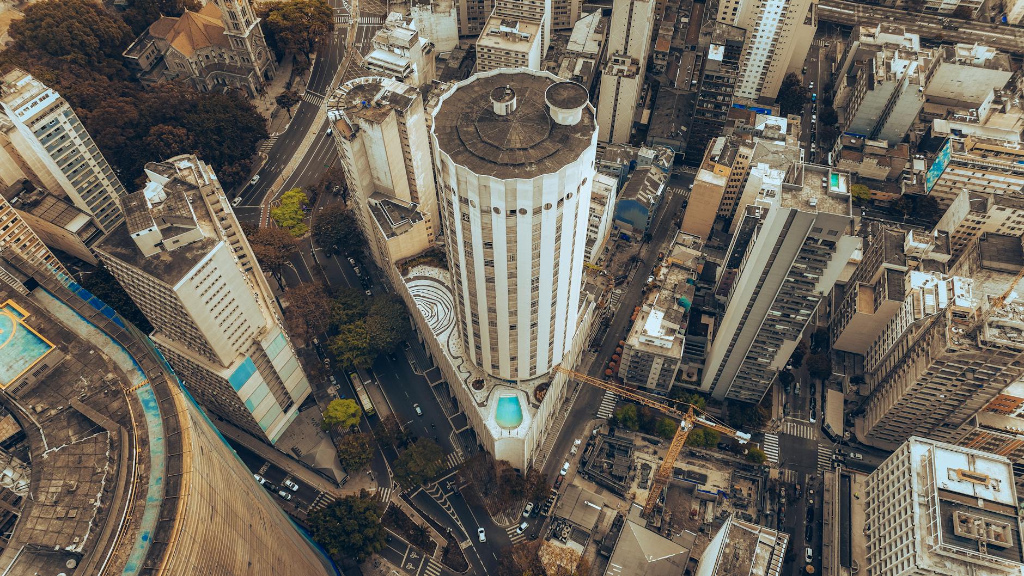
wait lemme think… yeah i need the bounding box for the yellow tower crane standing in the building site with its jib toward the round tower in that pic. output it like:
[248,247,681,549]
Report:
[553,365,748,524]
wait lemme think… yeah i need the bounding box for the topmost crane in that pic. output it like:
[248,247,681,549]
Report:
[964,265,1024,338]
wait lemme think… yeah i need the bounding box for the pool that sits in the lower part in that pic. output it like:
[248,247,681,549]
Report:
[496,394,522,429]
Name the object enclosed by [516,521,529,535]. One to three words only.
vehicle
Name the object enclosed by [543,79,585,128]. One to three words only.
water tank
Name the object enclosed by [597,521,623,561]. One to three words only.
shed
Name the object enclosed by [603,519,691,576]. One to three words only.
building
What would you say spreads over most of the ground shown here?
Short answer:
buildings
